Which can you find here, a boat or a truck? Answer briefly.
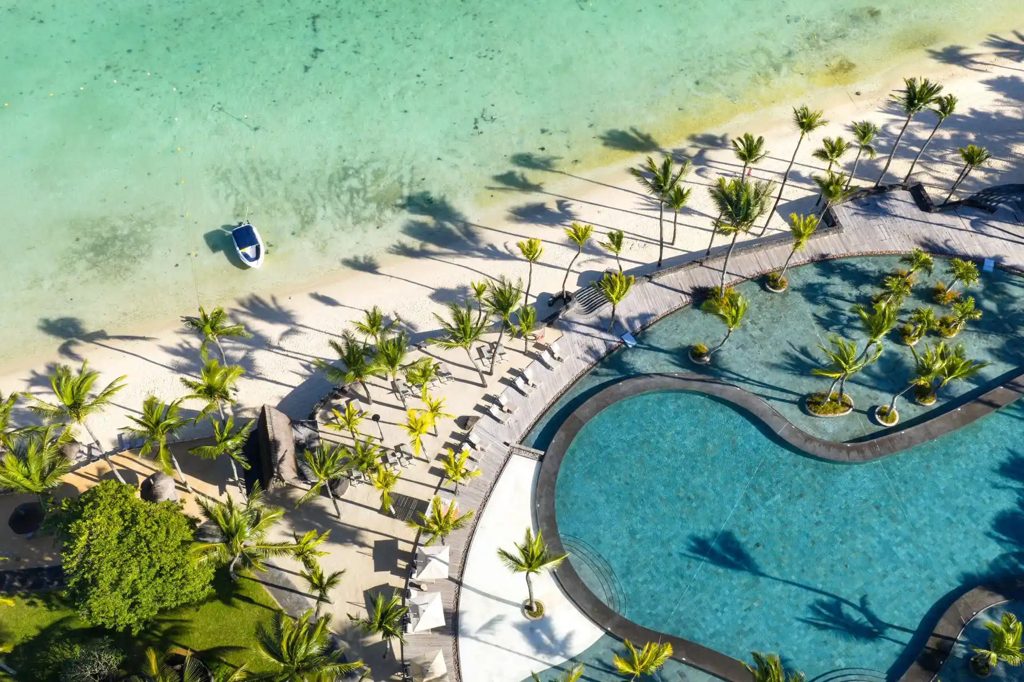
boat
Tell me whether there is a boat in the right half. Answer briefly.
No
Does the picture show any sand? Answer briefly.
Yes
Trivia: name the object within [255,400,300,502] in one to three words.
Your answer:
building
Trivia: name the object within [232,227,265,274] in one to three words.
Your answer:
boat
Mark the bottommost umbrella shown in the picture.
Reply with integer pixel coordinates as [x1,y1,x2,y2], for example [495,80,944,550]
[409,648,451,682]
